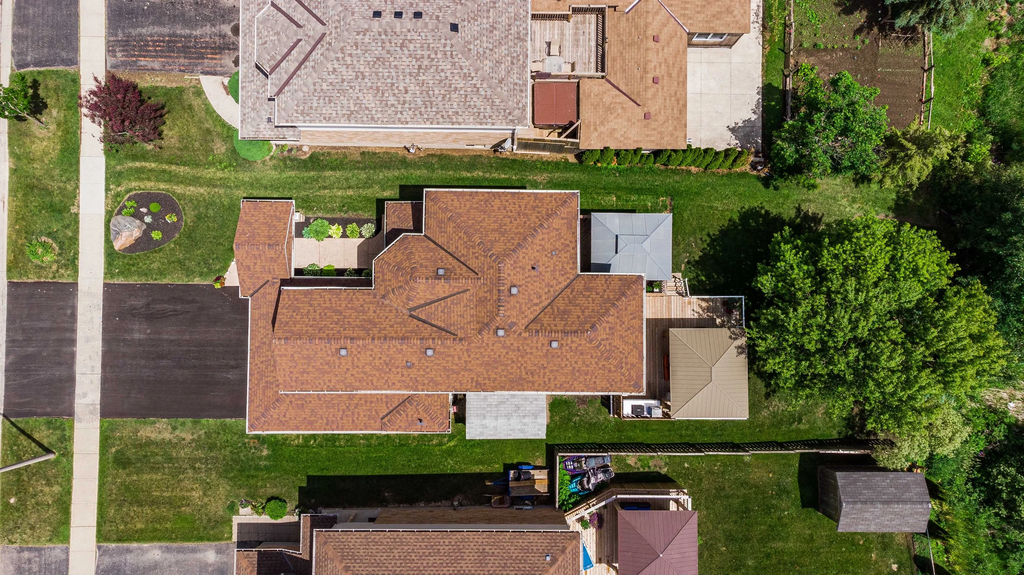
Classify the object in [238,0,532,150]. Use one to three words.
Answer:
house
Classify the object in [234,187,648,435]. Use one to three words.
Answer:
house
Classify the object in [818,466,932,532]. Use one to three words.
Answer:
shed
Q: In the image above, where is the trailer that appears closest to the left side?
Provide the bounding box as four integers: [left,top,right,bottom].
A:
[484,462,550,502]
